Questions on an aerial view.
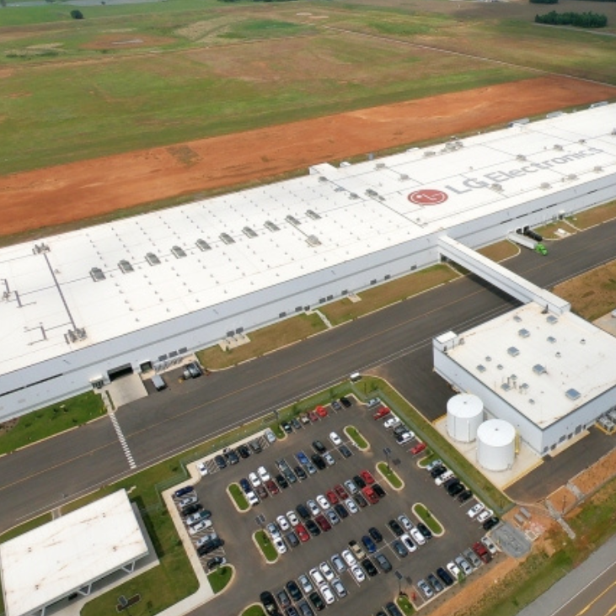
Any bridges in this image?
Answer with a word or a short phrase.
Yes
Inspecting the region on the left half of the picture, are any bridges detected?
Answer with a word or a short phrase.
No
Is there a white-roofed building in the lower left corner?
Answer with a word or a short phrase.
Yes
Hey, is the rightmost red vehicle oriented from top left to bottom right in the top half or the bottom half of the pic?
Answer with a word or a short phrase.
bottom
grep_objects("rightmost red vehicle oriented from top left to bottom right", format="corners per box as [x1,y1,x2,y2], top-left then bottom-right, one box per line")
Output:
[471,541,492,563]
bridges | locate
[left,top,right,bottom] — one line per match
[435,235,572,317]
